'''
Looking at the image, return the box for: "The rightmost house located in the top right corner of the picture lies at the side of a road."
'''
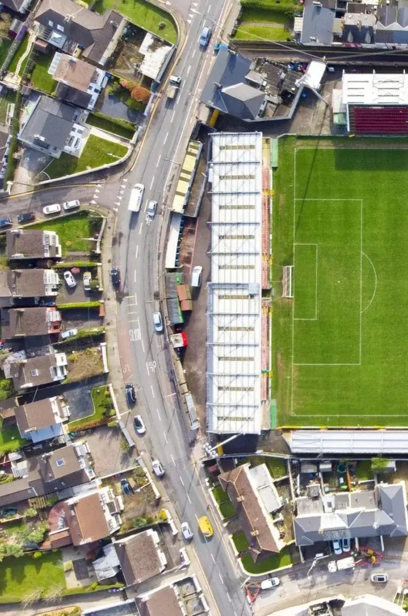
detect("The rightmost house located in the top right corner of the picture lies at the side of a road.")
[373,0,408,53]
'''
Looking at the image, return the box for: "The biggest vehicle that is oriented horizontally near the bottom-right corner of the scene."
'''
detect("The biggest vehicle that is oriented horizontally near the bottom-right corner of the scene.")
[327,556,357,573]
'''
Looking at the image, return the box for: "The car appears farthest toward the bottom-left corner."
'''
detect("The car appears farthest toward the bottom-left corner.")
[121,478,133,495]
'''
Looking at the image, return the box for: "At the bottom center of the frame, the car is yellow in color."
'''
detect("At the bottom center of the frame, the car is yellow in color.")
[199,517,213,536]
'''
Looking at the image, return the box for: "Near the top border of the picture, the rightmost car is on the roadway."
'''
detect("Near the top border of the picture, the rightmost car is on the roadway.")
[200,26,212,46]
